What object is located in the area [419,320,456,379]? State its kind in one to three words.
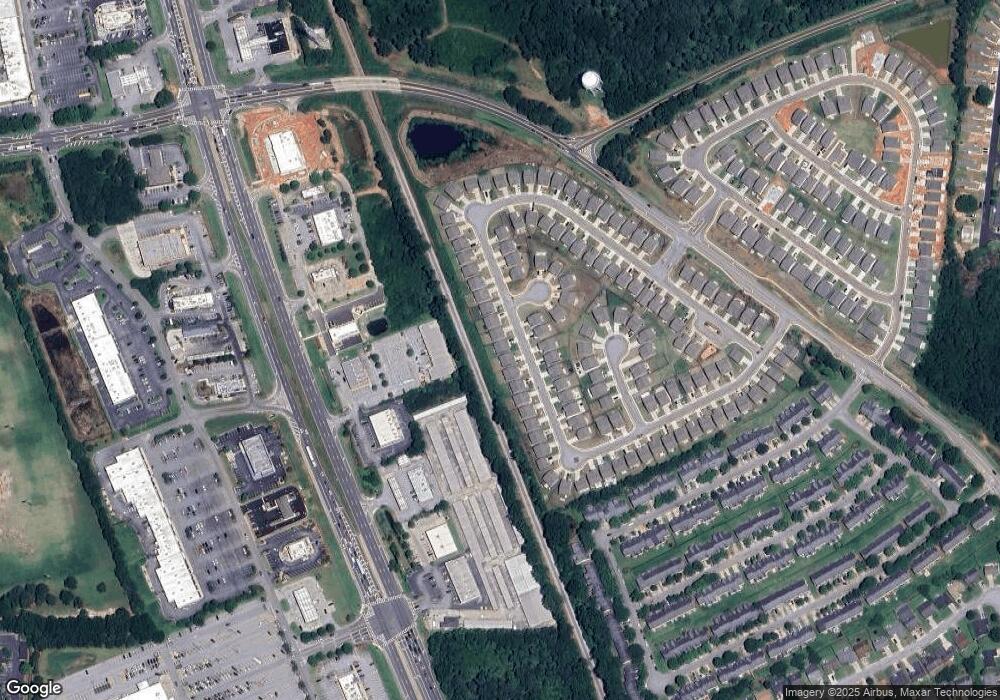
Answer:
shed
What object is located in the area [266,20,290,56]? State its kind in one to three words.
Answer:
building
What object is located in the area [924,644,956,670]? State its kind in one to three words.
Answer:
house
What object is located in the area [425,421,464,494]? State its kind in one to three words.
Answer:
shed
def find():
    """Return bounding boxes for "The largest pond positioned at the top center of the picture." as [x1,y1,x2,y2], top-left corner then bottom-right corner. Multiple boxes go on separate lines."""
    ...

[408,121,463,159]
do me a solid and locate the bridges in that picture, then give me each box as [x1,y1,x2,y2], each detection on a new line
[332,75,403,94]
